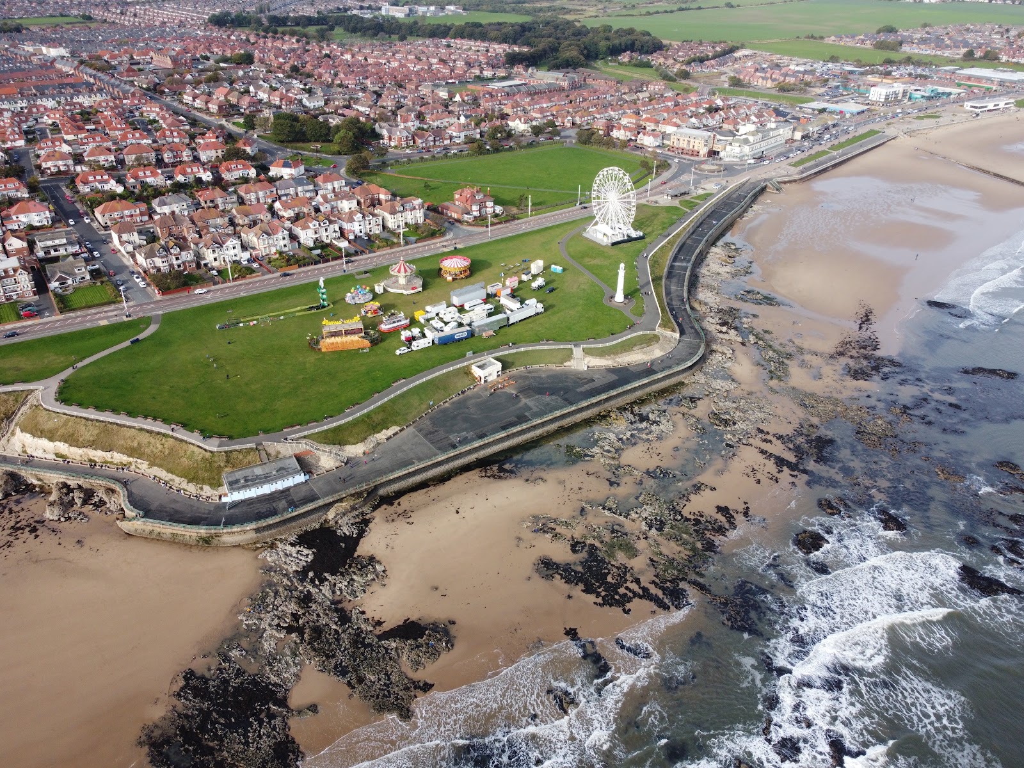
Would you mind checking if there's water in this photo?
Yes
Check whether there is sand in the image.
Yes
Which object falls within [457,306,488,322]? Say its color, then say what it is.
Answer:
white camper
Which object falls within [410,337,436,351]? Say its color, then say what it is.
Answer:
white camper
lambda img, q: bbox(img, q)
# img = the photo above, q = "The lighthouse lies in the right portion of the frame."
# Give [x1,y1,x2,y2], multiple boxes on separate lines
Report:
[606,264,633,306]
